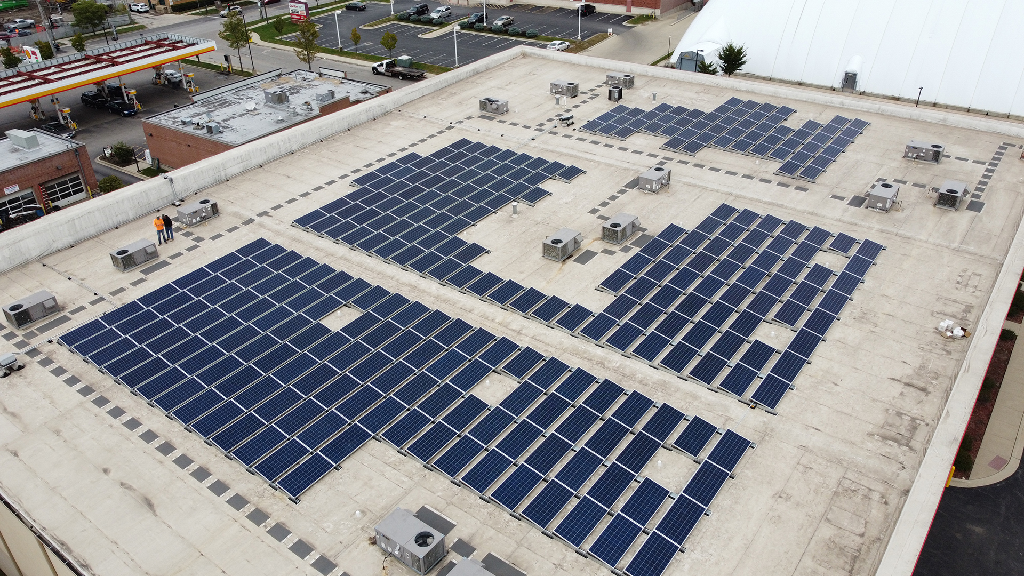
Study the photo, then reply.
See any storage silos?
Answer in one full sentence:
No, the photo shows no storage silo.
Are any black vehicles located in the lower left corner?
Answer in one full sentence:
No, I can find no black vehicle in the lower left corner.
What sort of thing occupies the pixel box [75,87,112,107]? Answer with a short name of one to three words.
car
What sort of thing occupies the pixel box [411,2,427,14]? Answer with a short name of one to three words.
vehicle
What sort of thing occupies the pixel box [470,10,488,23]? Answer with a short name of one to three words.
vehicle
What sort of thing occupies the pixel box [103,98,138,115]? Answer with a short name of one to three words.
car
